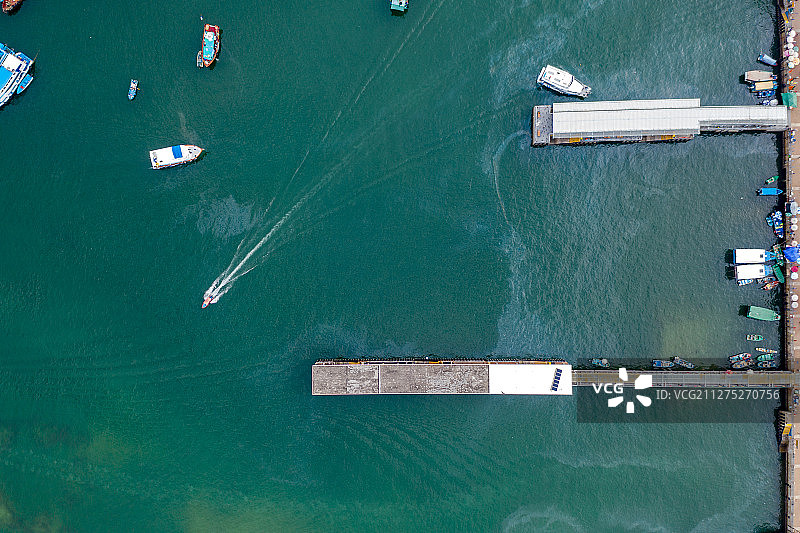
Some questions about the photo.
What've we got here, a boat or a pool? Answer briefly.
boat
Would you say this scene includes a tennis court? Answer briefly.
No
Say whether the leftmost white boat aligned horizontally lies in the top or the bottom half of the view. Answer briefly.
top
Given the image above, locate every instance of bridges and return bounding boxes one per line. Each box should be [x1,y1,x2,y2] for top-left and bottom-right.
[572,370,787,388]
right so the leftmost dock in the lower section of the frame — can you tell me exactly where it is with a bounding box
[312,357,572,395]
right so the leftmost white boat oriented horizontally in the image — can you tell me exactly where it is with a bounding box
[148,142,206,169]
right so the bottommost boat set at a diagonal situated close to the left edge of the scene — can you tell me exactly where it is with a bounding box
[17,76,34,95]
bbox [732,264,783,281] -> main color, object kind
white vessel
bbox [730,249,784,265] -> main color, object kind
white vessel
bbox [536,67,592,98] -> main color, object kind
white boat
